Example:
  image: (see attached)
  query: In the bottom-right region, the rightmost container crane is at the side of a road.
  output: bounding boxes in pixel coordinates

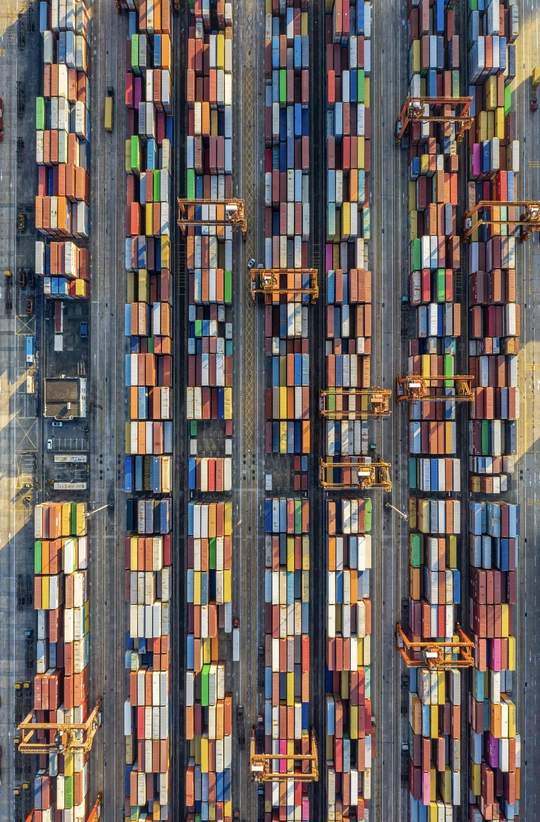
[394,621,477,669]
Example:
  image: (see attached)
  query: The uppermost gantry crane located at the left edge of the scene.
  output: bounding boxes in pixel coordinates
[14,694,105,751]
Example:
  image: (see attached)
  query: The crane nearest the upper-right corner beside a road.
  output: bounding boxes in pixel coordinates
[394,95,477,149]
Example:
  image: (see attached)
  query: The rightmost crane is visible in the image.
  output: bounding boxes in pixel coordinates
[461,199,540,244]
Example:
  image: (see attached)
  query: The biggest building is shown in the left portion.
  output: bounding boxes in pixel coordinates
[42,375,87,422]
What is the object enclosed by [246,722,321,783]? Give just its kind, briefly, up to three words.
container crane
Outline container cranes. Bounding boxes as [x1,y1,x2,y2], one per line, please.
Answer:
[394,621,477,669]
[14,694,105,751]
[394,95,477,149]
[246,722,321,783]
[176,197,252,242]
[394,374,477,403]
[315,458,392,490]
[247,267,320,306]
[315,390,389,417]
[461,199,540,244]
